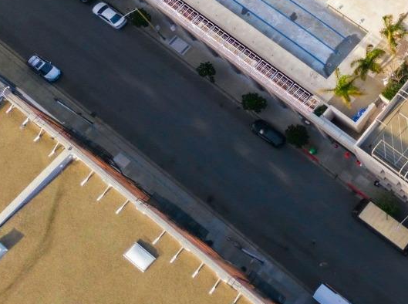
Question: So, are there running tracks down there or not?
No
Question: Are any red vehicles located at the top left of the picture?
No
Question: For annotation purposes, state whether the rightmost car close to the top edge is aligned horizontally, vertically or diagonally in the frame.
diagonally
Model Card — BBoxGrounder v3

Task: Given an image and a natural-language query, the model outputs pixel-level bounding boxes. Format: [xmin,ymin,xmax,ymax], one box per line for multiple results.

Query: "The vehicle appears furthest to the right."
[347,197,408,257]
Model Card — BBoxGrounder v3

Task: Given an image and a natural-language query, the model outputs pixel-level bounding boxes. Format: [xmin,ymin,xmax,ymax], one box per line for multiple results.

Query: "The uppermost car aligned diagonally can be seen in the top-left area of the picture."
[93,4,128,33]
